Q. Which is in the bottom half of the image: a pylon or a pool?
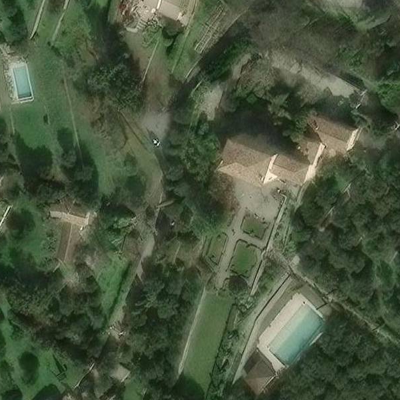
pool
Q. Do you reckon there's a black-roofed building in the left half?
No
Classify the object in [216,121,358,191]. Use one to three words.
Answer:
house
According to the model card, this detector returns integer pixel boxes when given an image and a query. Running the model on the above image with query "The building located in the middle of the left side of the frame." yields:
[49,211,92,259]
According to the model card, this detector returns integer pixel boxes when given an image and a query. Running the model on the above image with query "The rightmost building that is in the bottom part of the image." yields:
[238,351,279,388]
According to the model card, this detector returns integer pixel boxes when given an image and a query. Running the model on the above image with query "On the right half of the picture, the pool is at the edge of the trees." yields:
[247,291,326,374]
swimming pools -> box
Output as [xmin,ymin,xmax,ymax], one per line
[247,291,326,374]
[2,48,34,102]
